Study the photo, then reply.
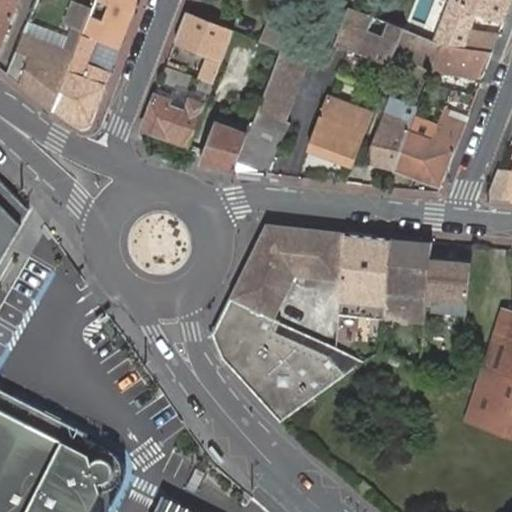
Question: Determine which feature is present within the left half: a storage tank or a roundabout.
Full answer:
There is a roundabout within the left half.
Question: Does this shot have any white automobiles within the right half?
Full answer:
Yes, there is a white automobile within the right half.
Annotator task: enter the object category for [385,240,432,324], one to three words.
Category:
building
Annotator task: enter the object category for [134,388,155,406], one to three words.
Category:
car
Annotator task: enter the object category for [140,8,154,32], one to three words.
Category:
car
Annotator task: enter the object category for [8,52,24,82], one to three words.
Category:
shed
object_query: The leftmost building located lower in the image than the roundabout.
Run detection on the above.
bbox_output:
[0,390,120,512]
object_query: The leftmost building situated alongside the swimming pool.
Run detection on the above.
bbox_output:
[334,8,402,60]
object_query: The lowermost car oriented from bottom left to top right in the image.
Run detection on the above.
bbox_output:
[153,409,174,427]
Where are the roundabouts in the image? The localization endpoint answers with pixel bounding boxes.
[84,160,236,325]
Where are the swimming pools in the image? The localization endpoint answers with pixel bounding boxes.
[408,0,442,33]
